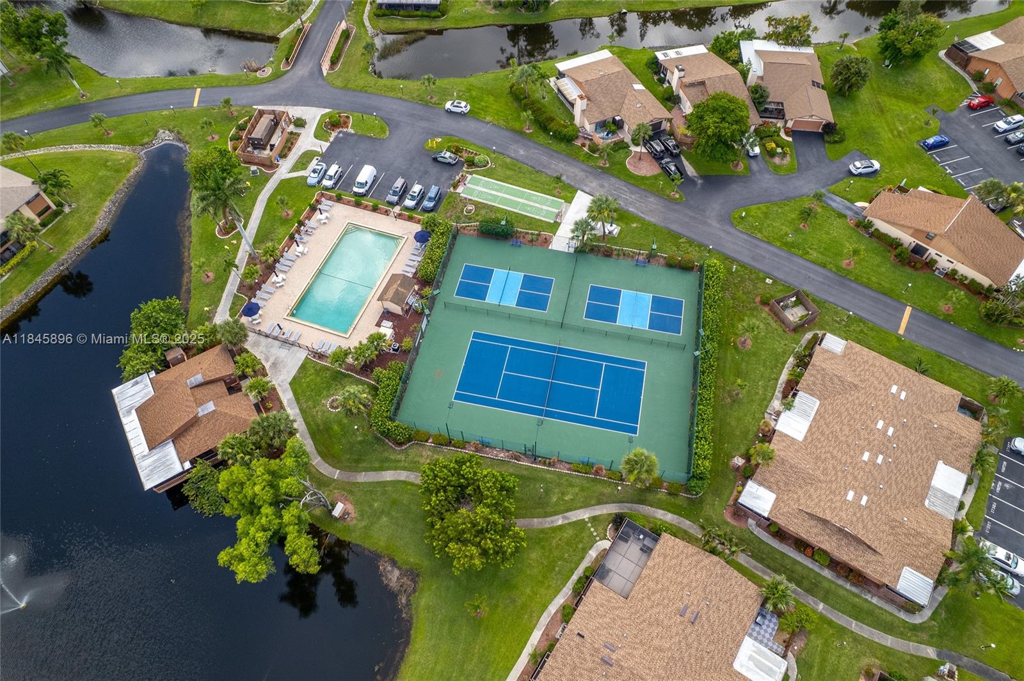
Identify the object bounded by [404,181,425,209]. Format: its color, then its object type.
white car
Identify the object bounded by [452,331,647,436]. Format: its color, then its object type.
blue tennis court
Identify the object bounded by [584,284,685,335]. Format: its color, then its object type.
blue sports court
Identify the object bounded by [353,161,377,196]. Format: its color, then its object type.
white vehicle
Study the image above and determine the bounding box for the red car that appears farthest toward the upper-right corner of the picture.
[967,96,996,110]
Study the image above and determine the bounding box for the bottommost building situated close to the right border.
[733,332,985,611]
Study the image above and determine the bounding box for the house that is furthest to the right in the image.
[945,16,1024,107]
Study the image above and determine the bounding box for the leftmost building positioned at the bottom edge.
[531,518,789,681]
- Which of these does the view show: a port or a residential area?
residential area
